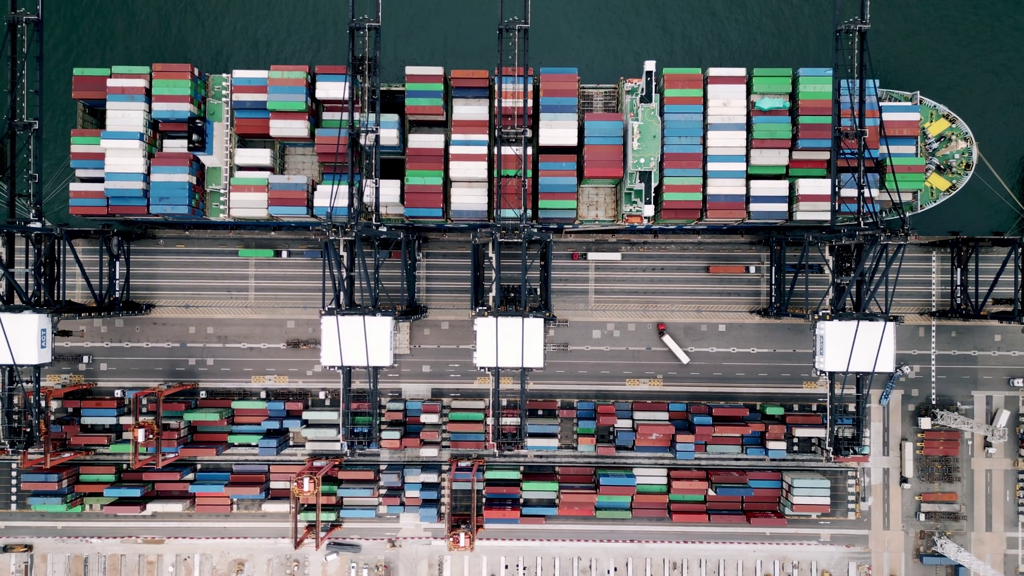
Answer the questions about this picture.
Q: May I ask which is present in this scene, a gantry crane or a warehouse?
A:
gantry crane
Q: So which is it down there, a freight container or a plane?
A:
freight container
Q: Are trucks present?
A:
Yes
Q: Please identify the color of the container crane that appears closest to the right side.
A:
black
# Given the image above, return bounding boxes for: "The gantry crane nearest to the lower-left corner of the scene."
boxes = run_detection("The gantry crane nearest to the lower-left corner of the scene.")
[19,379,96,468]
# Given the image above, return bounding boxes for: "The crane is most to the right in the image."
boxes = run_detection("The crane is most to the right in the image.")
[920,223,1024,318]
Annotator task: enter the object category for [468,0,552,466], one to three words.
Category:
container crane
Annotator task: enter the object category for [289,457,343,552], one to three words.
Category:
container crane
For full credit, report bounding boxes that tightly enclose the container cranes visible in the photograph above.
[319,0,429,464]
[130,380,197,469]
[289,457,343,552]
[445,458,486,554]
[468,0,552,466]
[19,379,96,468]
[0,0,149,461]
[920,223,1024,318]
[750,0,917,469]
